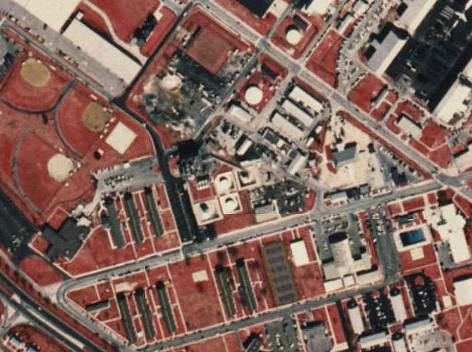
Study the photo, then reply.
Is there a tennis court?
Yes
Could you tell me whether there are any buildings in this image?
Yes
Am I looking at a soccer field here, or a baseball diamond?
baseball diamond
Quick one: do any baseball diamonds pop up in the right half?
No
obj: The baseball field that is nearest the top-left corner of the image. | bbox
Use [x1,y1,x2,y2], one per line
[0,54,77,115]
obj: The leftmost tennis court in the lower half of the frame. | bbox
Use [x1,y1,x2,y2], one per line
[261,241,298,304]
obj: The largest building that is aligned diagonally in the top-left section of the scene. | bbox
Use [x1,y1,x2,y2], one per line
[62,18,145,87]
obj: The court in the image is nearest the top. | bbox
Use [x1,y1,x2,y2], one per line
[105,121,137,154]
